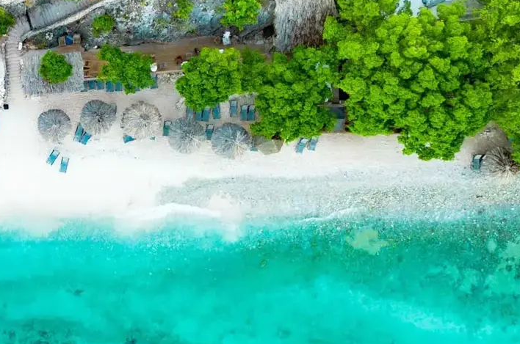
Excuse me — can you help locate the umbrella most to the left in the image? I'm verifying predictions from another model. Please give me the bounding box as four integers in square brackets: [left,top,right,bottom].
[35,107,72,144]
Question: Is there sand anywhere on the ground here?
Yes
